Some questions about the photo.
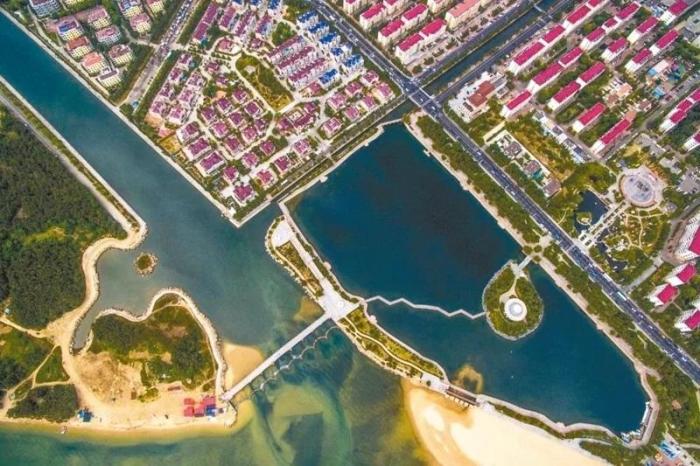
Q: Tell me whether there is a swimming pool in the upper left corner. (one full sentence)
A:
No, looking in the upper left corner, there is no swimming pool.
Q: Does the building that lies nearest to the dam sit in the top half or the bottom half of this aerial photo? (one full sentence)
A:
The building that lies nearest to the dam is in the bottom half of the image.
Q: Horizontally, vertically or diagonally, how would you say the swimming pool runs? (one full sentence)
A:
The swimming pool is laid out diagonally.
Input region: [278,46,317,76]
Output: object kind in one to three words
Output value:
house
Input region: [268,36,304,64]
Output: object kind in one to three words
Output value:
house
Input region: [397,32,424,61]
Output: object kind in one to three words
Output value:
building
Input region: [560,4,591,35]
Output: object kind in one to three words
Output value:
building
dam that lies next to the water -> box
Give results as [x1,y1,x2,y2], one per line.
[443,383,483,411]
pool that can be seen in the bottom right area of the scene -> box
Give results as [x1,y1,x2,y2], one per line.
[664,435,690,462]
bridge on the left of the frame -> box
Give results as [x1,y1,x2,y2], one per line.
[225,312,332,398]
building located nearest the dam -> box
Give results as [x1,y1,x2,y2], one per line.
[502,298,526,321]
